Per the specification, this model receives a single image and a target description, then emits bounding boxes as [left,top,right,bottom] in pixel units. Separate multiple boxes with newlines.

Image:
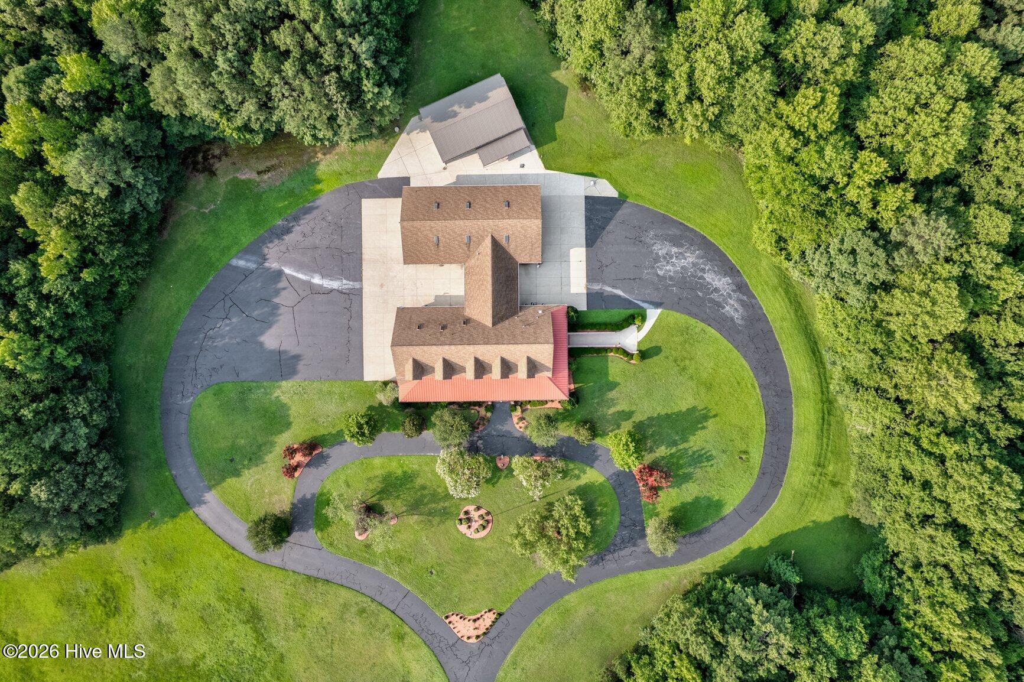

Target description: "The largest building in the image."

[391,184,569,402]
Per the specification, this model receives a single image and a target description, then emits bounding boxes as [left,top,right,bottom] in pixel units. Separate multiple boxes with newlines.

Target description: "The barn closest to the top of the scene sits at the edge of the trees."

[420,72,530,168]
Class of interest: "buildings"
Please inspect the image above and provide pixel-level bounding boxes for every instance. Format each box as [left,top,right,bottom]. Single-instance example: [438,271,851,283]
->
[391,184,569,402]
[420,72,530,168]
